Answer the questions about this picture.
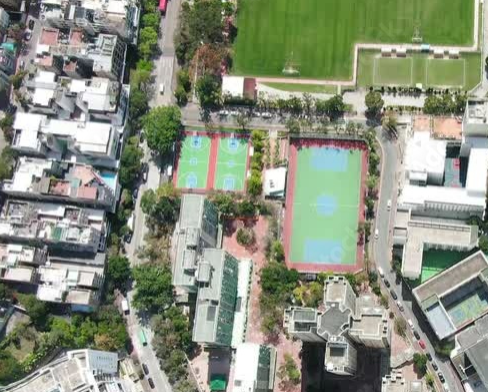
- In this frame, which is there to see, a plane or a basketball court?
basketball court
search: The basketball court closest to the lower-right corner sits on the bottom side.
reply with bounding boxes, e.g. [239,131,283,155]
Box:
[442,282,488,334]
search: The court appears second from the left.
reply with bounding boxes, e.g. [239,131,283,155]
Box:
[285,139,369,275]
